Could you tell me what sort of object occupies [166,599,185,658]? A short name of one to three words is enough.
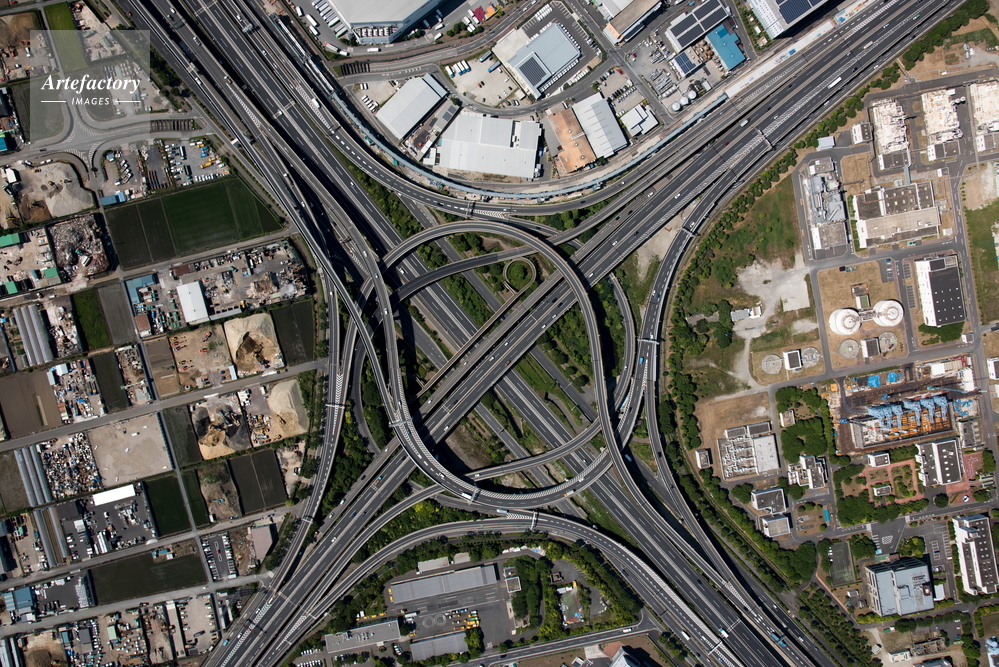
shed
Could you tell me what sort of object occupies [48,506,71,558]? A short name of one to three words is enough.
greenhouse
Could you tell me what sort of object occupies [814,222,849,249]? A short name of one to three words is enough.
building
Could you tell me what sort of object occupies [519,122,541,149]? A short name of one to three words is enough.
building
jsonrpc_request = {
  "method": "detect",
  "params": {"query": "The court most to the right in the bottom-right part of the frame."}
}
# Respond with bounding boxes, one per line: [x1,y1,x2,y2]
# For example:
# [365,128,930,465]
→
[830,542,857,588]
